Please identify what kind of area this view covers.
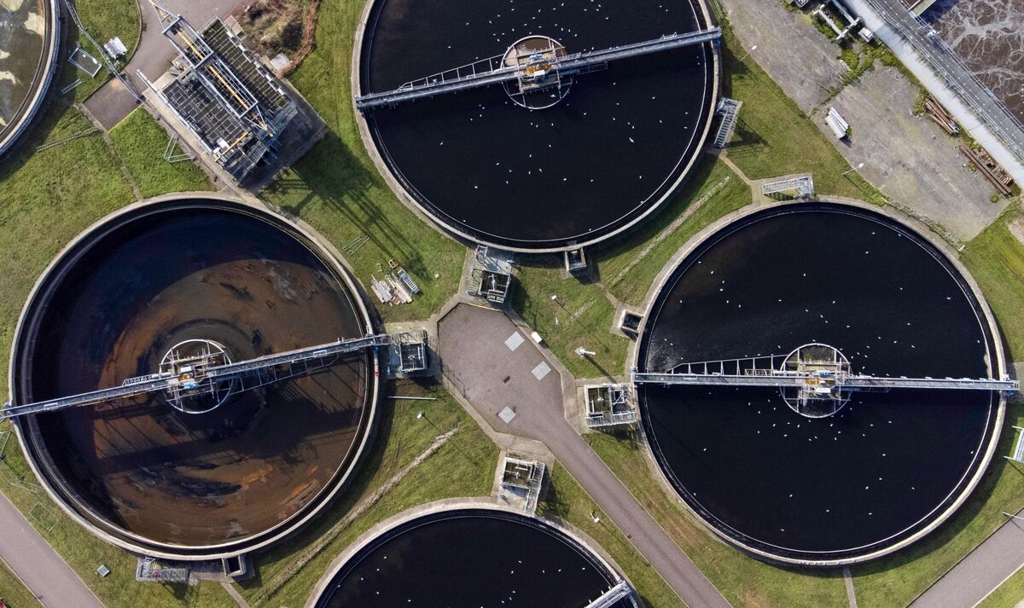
industrial area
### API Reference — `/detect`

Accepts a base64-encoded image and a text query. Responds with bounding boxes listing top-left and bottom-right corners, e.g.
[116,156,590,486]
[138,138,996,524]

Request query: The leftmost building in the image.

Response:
[136,0,309,187]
